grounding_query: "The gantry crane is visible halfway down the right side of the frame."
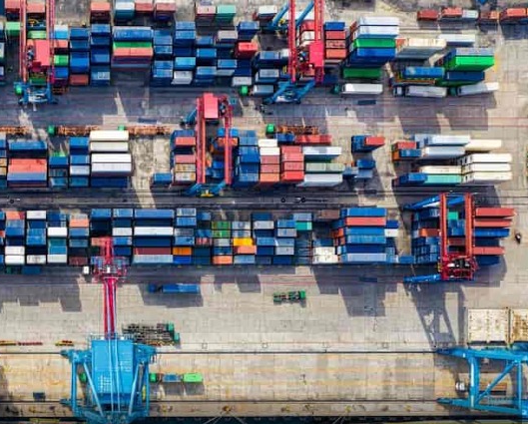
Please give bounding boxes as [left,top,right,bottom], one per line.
[399,193,476,285]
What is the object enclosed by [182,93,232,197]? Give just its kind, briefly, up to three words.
container crane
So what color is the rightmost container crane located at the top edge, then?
red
